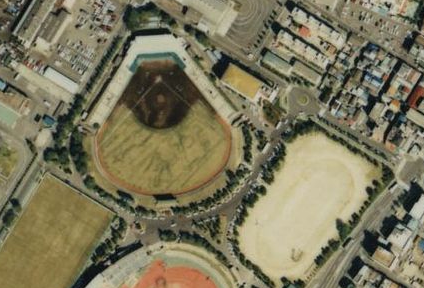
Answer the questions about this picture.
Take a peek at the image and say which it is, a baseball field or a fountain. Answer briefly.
baseball field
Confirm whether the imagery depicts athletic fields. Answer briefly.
Yes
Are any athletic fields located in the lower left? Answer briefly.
Yes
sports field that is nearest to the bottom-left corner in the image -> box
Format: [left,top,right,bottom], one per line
[0,171,120,288]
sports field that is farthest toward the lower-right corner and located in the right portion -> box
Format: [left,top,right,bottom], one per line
[239,132,382,283]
